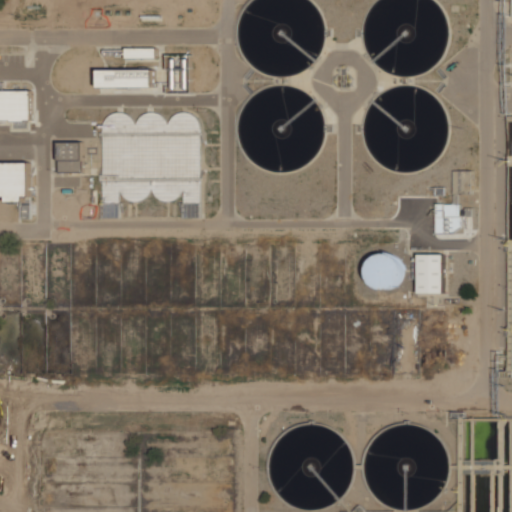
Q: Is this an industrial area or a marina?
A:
industrial area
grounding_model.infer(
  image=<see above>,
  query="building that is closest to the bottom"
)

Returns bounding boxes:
[415,254,444,294]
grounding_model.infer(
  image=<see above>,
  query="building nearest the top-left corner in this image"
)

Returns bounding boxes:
[0,90,32,128]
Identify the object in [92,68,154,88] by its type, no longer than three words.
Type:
building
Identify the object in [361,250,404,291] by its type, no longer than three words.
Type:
storage tank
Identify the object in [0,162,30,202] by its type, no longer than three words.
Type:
building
